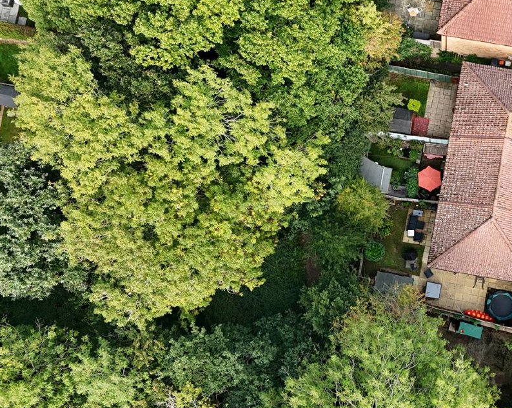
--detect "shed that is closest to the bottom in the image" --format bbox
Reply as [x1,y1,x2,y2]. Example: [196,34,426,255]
[371,269,413,295]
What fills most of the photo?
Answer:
trees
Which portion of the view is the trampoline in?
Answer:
bottom right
